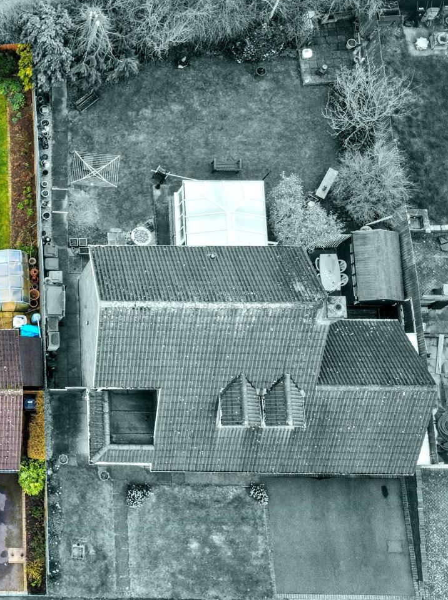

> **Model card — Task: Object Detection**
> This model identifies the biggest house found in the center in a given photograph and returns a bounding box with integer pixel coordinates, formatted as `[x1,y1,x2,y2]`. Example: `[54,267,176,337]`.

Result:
[64,252,440,476]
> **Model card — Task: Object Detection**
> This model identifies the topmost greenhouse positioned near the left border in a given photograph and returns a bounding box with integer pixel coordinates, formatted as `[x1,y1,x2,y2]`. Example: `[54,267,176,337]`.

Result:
[0,249,31,307]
